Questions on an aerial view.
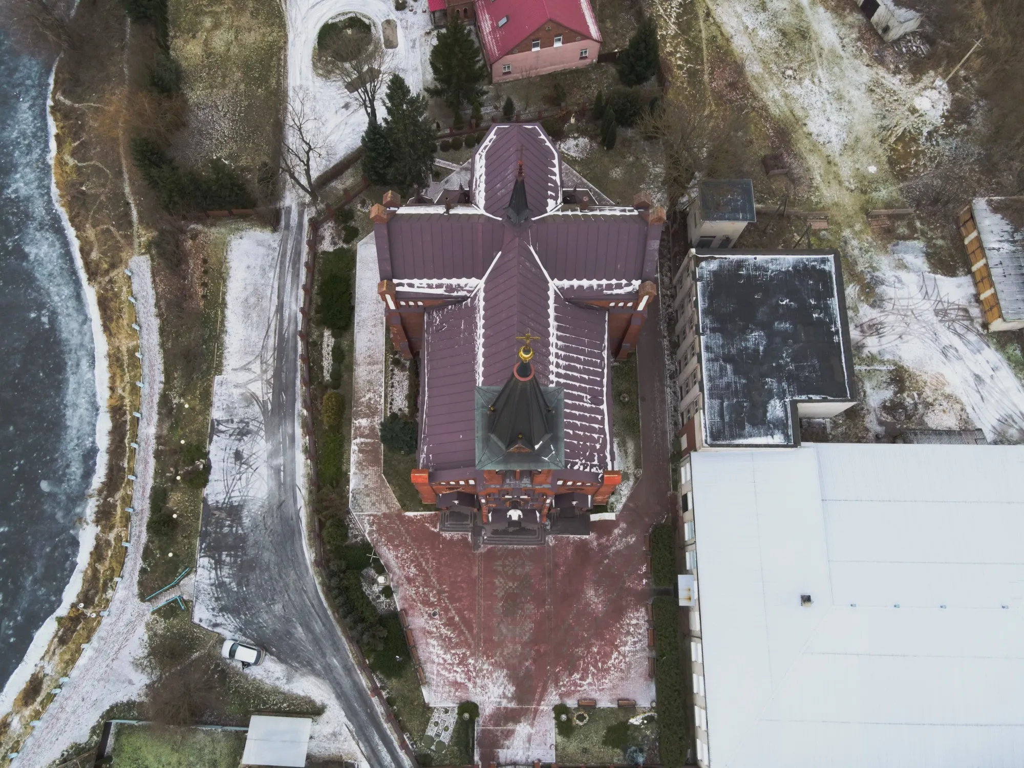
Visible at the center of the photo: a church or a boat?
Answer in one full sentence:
There is a church at the center of the photo.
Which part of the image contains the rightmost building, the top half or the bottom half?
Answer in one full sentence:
You can find the rightmost building in the top half.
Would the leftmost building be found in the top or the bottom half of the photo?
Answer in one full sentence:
You can find the leftmost building in the bottom half.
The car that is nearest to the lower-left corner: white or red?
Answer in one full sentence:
In this view, the car that is nearest to the lower-left corner is white.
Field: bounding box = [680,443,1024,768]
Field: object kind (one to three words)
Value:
building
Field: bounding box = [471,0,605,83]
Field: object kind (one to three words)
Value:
house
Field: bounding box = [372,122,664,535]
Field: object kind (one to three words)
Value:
church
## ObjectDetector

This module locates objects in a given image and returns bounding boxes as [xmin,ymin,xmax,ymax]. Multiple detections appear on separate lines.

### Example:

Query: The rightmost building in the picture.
[963,193,1024,329]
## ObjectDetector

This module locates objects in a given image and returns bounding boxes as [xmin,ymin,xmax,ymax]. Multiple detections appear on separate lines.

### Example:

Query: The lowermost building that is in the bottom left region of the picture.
[242,713,317,767]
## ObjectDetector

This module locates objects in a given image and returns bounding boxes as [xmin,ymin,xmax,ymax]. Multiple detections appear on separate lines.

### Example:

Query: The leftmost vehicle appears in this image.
[218,641,270,675]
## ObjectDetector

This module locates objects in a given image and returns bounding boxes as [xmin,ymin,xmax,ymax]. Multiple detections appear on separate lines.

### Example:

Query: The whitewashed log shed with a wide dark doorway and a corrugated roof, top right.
[859,0,919,43]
